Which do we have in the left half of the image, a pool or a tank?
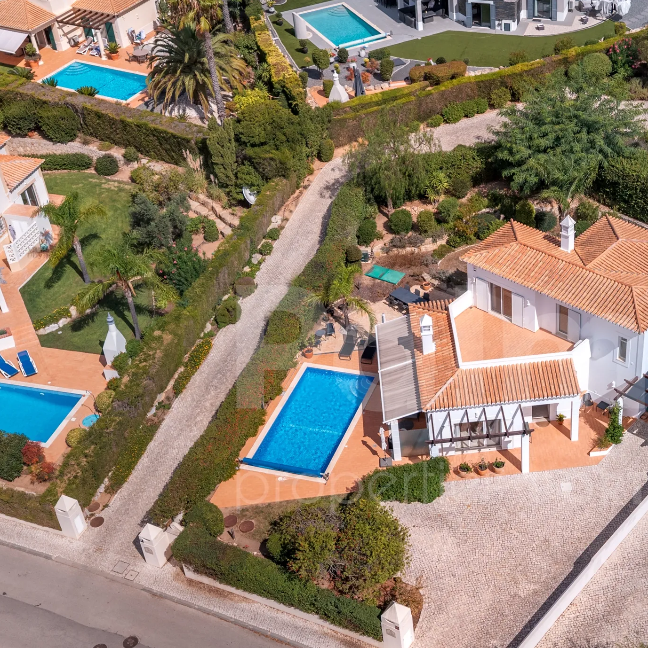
pool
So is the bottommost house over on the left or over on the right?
right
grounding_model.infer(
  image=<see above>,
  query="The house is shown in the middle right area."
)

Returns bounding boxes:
[375,206,648,474]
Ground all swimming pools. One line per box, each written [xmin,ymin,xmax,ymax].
[36,59,159,102]
[241,362,379,483]
[0,379,91,447]
[306,1,392,52]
